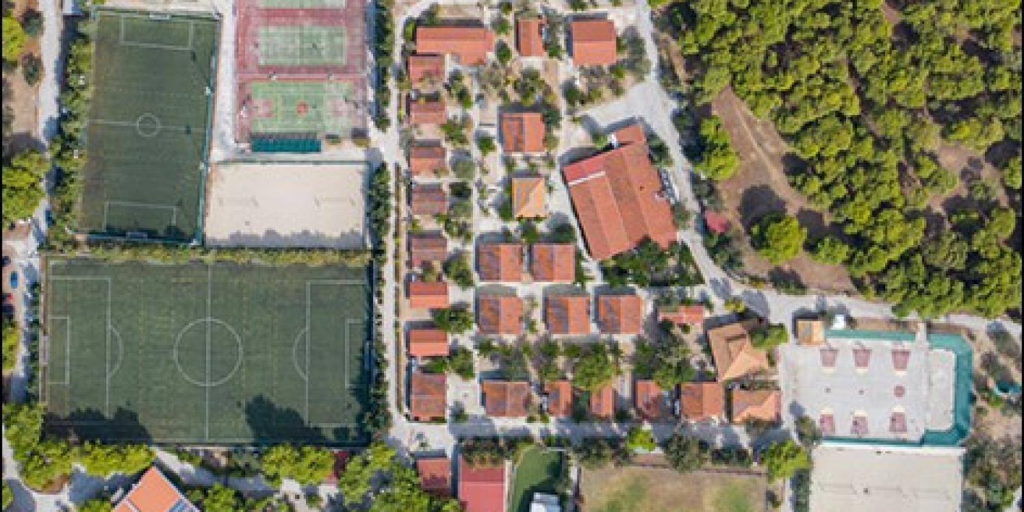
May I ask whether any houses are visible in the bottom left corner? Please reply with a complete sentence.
Yes, the scene does show a house in the bottom left corner.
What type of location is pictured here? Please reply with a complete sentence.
This looks like a sports ground.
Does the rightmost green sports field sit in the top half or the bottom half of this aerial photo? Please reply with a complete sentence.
You can find the rightmost green sports field in the bottom half.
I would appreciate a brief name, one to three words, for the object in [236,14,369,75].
tennis court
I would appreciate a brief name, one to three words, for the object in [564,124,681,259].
building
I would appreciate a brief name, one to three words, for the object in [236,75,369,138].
basketball court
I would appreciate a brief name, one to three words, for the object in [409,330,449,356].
house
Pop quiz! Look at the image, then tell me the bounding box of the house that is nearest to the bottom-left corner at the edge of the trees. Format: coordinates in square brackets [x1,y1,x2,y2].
[110,464,207,512]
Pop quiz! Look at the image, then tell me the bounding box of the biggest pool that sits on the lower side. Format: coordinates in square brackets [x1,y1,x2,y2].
[994,380,1011,396]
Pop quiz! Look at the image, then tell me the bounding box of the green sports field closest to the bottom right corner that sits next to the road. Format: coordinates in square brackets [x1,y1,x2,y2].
[510,446,569,512]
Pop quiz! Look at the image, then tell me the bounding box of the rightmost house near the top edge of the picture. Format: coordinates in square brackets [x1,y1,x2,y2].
[572,22,617,66]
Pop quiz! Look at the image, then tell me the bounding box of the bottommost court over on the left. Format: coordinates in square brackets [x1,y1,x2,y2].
[205,161,365,248]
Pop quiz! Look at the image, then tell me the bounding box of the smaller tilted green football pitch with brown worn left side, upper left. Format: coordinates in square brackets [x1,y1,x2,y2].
[79,12,217,241]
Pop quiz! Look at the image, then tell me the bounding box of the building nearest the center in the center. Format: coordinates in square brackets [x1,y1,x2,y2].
[479,244,522,282]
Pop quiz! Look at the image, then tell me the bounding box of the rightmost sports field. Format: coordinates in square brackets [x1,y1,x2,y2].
[580,468,766,512]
